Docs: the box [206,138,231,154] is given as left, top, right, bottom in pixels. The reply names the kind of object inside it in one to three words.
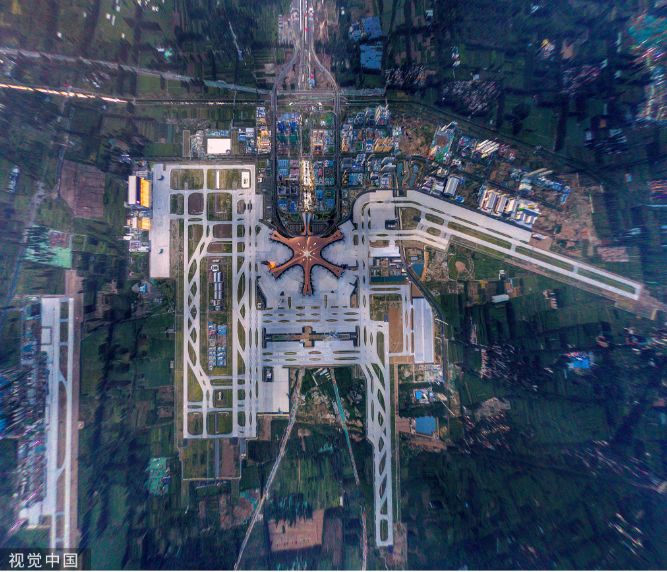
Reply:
hangar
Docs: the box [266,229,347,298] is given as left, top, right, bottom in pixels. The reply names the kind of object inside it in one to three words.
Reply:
building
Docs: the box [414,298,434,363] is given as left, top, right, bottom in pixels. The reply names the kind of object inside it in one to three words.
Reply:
hangar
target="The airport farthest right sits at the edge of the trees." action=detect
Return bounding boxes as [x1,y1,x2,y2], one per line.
[149,164,640,546]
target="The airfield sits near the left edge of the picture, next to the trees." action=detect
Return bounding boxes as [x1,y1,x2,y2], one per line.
[19,298,73,550]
